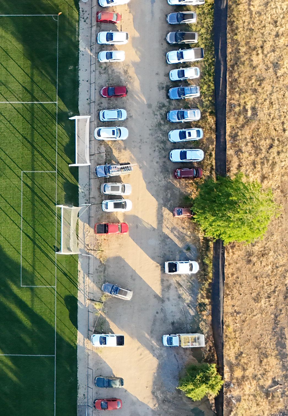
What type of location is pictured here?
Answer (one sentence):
It's a sports ground.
